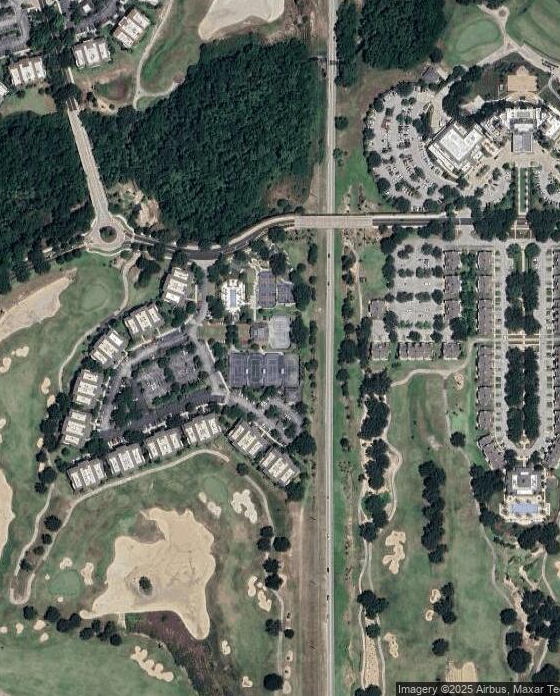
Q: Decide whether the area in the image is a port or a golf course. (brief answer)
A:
golf course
